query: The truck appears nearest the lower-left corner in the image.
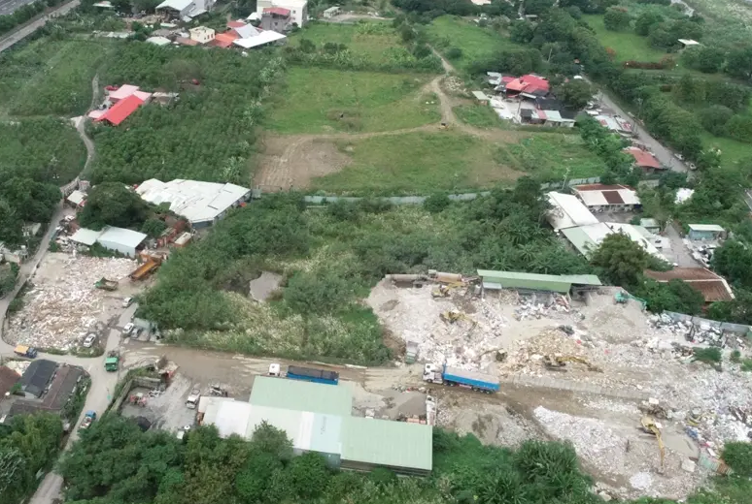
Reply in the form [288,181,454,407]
[69,404,101,433]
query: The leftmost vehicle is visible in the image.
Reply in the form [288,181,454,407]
[7,340,40,358]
